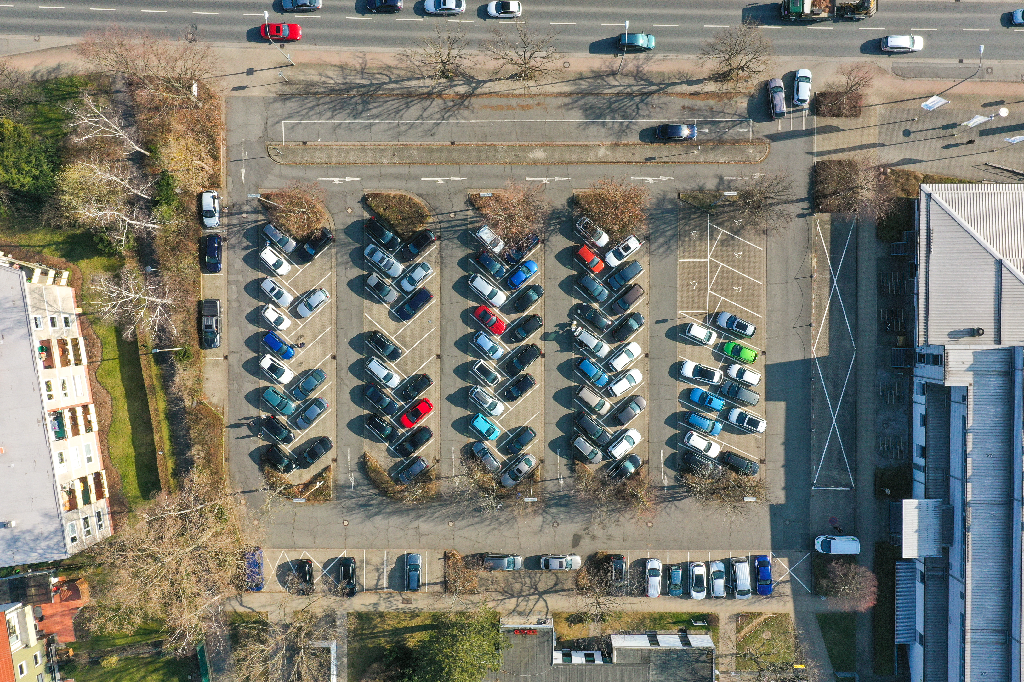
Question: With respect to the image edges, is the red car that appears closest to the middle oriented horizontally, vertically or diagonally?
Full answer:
In this picture, the red car that appears closest to the middle lies diagonally.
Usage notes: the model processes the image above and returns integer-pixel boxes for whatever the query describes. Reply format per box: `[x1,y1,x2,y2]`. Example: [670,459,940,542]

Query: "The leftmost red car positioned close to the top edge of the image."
[260,21,303,41]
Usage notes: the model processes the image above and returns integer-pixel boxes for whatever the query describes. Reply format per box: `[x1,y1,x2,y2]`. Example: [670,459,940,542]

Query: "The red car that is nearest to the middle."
[473,304,506,335]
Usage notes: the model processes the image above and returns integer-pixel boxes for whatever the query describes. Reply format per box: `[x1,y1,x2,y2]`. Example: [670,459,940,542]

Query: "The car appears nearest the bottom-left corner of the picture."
[246,546,266,592]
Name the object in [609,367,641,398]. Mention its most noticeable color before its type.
white car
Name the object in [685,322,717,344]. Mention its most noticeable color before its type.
white car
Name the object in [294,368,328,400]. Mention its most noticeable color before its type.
blue car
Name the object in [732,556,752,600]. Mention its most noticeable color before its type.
white vehicle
